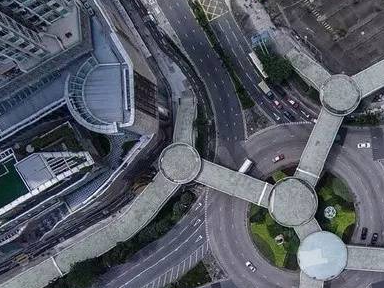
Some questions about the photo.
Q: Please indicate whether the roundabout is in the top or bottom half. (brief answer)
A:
bottom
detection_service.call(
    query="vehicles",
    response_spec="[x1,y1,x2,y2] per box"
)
[288,98,300,109]
[271,98,283,109]
[273,154,285,162]
[238,155,258,174]
[283,111,294,122]
[359,142,371,148]
[361,227,367,240]
[245,261,256,271]
[257,80,275,101]
[371,232,377,244]
[246,51,270,81]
